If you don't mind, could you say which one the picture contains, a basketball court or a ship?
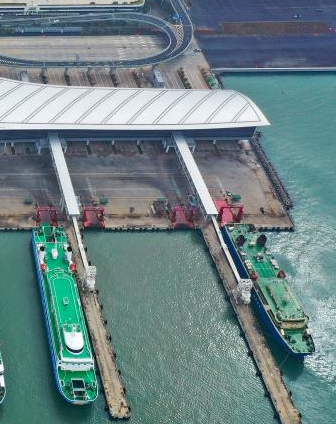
ship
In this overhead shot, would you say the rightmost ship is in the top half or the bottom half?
bottom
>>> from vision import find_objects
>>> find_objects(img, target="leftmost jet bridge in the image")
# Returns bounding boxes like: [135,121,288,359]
[49,139,98,296]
